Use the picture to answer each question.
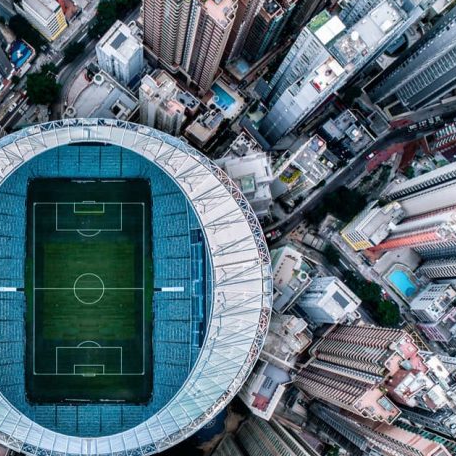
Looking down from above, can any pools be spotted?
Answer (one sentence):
Yes, you can see a pool in this photo.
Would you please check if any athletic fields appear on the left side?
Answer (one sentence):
Yes, I can see an athletic field on the left side.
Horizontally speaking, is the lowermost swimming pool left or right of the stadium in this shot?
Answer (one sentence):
Looking at the picture, you'll find the lowermost swimming pool to the right of the stadium.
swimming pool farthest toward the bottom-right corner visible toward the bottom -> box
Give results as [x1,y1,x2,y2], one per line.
[386,267,416,299]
